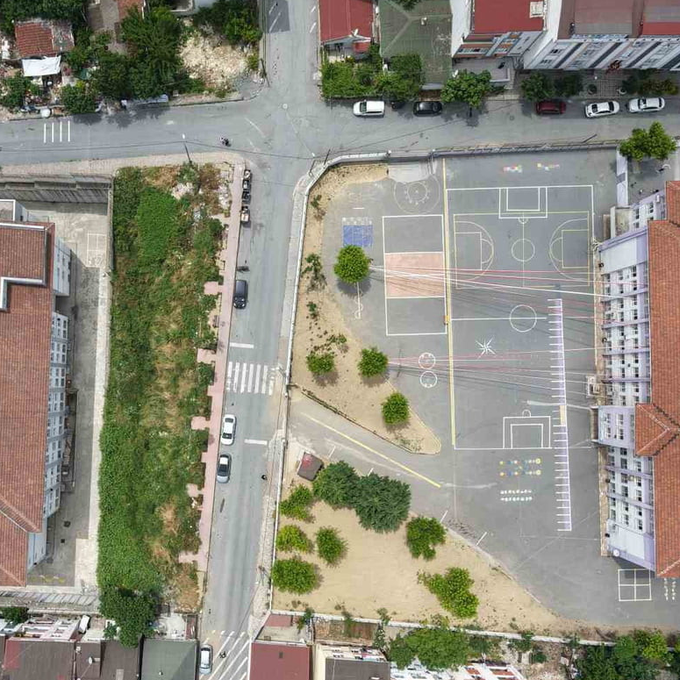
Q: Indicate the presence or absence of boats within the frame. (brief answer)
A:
No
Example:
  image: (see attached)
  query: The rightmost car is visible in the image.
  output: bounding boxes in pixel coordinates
[628,97,660,113]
